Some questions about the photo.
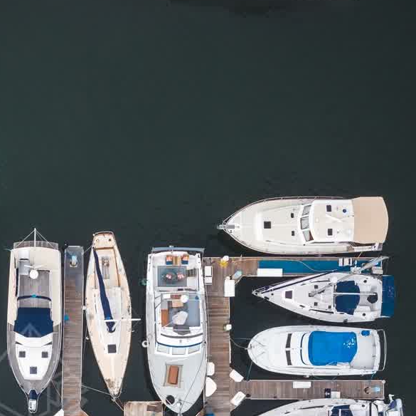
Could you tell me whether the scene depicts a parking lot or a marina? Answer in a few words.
marina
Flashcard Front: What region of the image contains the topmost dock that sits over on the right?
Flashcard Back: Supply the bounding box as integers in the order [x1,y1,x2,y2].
[229,257,384,277]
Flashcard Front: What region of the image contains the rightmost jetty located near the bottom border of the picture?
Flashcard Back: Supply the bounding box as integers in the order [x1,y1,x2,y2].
[231,379,385,399]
